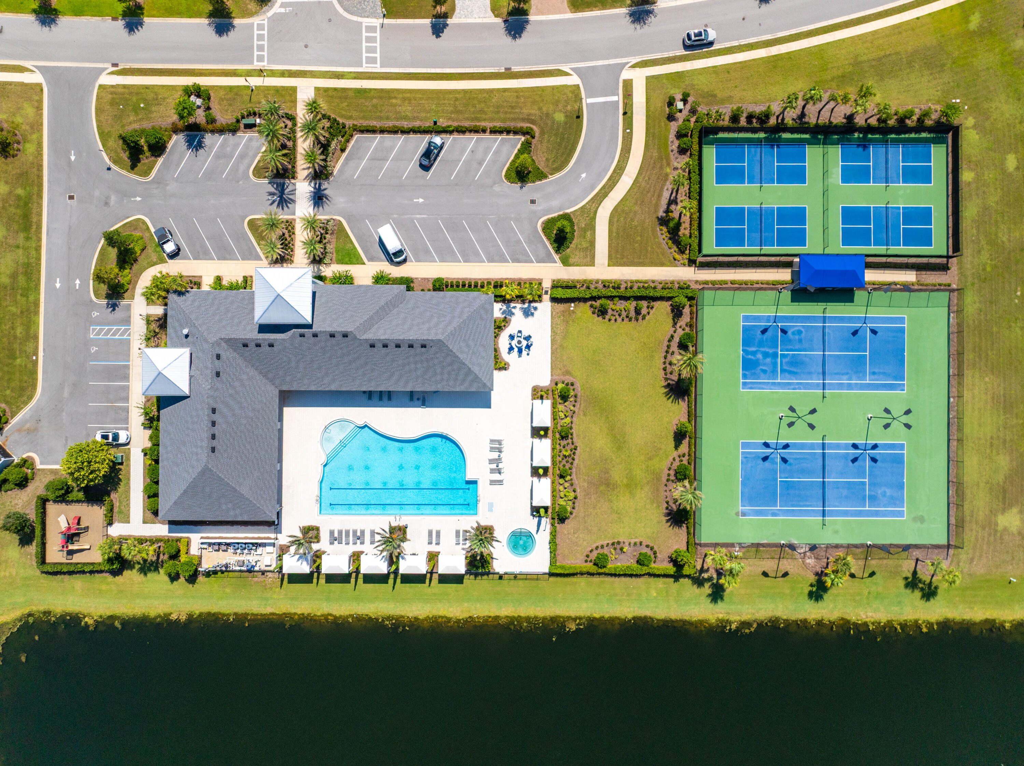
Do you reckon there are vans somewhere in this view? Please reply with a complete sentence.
Yes, the picture does show a van.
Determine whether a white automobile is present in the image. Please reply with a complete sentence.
Yes, there's a white automobile down there.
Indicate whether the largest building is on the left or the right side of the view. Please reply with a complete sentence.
The largest building is on the left side of the image.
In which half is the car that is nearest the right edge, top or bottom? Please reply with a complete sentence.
The car that is nearest the right edge sits in the top half of the picture.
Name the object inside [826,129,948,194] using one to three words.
sports court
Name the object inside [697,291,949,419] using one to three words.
tennis court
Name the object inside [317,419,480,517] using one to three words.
swimming pool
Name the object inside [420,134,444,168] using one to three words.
car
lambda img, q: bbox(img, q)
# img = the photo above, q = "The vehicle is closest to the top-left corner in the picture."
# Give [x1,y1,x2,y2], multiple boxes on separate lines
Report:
[150,225,178,257]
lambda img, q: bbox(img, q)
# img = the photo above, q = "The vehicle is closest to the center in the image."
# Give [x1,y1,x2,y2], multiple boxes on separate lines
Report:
[377,222,407,265]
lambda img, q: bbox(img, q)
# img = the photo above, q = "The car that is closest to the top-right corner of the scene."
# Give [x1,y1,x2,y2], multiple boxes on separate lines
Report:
[684,26,718,48]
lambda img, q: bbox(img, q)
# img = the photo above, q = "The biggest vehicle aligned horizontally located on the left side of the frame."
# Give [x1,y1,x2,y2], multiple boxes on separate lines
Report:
[94,430,130,446]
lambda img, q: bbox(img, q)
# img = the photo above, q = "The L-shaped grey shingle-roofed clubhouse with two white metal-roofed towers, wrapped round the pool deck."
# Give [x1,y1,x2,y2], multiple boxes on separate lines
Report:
[141,267,494,521]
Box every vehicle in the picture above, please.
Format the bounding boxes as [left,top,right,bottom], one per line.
[150,225,178,257]
[420,134,444,168]
[377,222,407,265]
[684,26,718,48]
[94,430,130,446]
